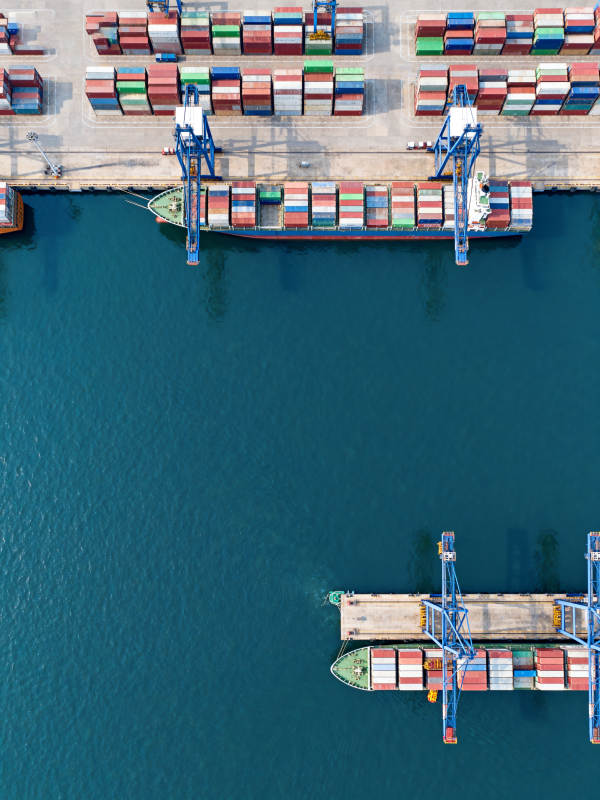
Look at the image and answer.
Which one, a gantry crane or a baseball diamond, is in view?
gantry crane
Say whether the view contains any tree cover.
No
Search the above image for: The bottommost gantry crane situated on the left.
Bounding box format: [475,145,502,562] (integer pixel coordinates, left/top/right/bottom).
[173,82,220,267]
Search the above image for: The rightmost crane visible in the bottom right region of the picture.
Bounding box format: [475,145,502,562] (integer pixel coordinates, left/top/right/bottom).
[548,530,600,746]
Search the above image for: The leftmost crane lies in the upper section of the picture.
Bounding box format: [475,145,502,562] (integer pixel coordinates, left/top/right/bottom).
[147,0,191,23]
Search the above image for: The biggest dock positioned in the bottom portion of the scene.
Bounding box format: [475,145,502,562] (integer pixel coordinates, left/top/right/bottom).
[341,591,598,641]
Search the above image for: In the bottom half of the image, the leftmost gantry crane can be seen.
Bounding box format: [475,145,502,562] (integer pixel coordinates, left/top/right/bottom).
[416,530,476,746]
